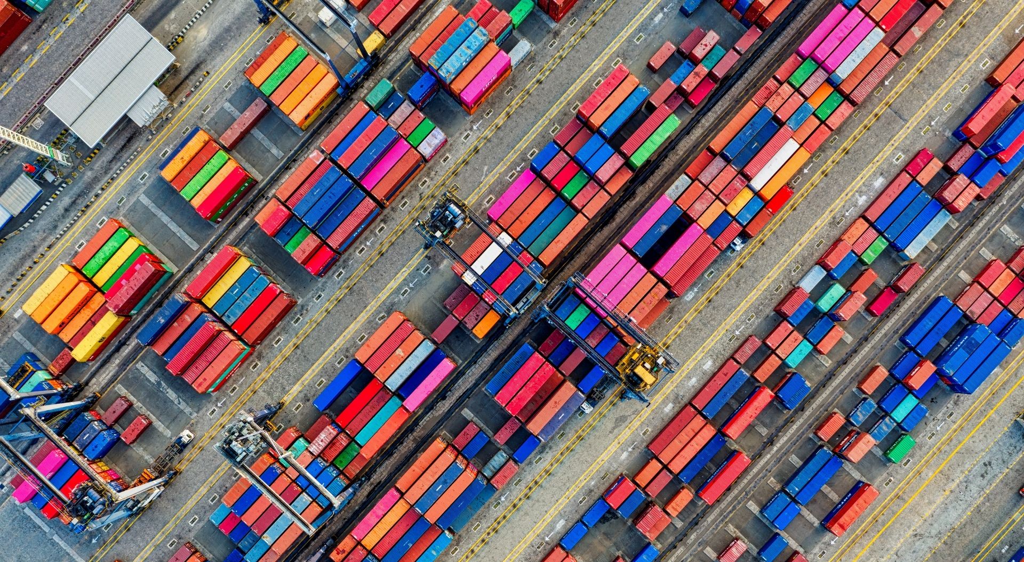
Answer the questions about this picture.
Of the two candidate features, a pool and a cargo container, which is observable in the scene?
cargo container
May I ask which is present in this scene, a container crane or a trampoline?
container crane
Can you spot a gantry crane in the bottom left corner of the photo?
Yes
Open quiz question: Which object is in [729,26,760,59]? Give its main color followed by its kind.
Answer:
red shipping container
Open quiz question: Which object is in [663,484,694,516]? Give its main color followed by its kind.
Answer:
orange shipping container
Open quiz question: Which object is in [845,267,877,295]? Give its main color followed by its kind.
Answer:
red shipping container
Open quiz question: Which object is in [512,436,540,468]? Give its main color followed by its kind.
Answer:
blue shipping container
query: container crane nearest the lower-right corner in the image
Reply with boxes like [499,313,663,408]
[532,274,688,415]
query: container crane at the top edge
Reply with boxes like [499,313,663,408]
[256,0,384,100]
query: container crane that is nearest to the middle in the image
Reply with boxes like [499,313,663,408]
[409,183,549,325]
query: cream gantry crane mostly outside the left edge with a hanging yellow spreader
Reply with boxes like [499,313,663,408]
[0,361,90,424]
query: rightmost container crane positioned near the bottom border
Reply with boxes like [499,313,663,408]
[204,394,373,541]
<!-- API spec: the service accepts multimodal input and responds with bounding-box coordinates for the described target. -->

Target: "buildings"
[44,13,187,153]
[0,172,50,219]
[41,168,62,185]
